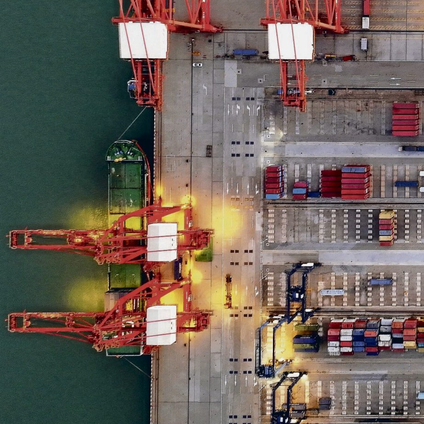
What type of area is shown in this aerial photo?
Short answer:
port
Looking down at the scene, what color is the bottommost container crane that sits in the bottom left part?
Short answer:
red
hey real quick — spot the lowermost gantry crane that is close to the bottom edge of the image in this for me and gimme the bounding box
[269,368,308,424]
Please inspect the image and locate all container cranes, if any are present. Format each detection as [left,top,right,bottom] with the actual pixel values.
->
[119,0,222,110]
[254,312,294,376]
[4,197,216,265]
[269,368,308,424]
[268,0,350,111]
[3,272,215,352]
[284,259,322,321]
